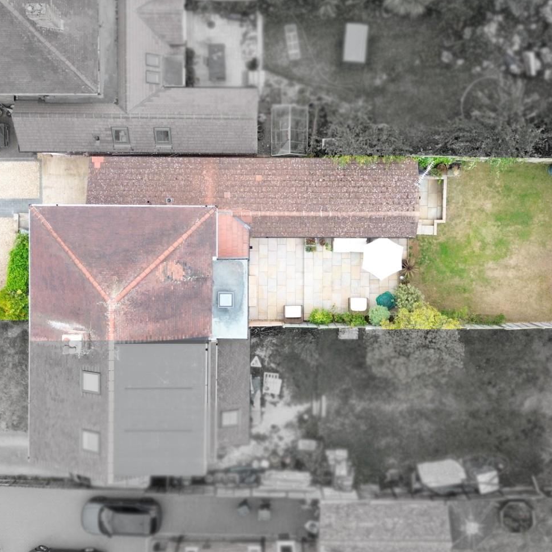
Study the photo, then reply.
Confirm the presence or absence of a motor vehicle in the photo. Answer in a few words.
Yes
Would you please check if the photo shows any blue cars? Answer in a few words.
No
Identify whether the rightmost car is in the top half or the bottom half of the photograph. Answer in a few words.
bottom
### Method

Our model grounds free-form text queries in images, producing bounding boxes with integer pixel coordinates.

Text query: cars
[82,498,163,541]
[28,545,105,552]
